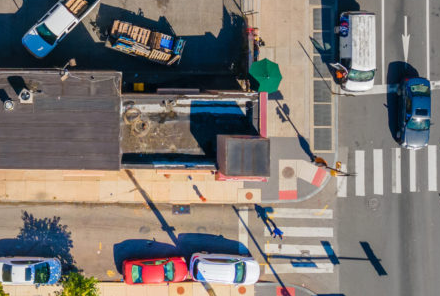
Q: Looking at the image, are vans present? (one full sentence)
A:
Yes, a van can be made out from above.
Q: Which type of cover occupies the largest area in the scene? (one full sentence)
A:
For the most part, this view shows paved ground.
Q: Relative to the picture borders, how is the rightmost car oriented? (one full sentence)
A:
From this overhead view, the rightmost car appears to run vertically.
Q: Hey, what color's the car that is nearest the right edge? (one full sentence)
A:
The color of the car that is nearest the right edge is blue.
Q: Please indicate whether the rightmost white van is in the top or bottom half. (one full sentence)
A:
The rightmost white van sits in the top half of the picture.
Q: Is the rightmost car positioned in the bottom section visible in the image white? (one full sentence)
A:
Yes, the rightmost car positioned in the bottom section is white.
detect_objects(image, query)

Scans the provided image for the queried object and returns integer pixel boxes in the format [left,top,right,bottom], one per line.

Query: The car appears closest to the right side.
[395,77,434,148]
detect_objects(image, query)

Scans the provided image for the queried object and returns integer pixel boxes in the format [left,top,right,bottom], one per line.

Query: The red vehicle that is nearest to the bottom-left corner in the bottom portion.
[121,254,188,287]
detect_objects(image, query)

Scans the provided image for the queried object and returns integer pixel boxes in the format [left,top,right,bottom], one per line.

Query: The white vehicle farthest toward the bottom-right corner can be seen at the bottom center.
[188,251,259,287]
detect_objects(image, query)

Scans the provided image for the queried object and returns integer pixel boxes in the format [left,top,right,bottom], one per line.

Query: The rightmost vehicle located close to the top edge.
[327,10,378,92]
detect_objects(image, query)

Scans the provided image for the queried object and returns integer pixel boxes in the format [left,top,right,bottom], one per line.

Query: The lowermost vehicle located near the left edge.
[0,255,62,288]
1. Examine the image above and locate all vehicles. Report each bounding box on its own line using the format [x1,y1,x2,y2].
[327,10,378,92]
[188,251,259,287]
[121,254,188,287]
[22,0,99,58]
[395,77,434,148]
[0,255,62,288]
